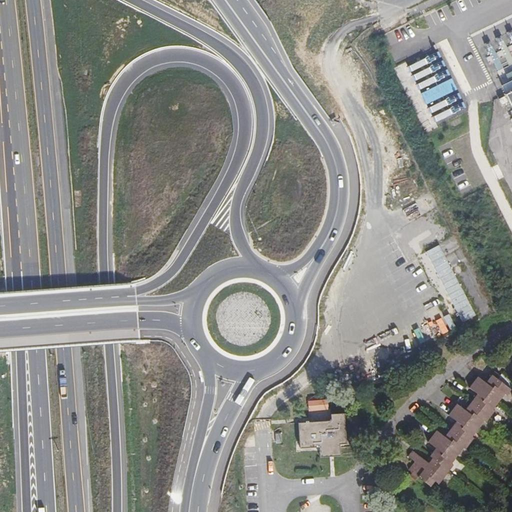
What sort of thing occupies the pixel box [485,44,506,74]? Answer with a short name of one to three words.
truck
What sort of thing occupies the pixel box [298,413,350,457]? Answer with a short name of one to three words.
building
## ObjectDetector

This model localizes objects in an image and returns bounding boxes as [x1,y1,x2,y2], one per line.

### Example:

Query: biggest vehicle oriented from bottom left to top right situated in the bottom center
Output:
[234,377,256,406]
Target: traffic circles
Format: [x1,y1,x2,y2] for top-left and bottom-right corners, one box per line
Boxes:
[182,256,306,381]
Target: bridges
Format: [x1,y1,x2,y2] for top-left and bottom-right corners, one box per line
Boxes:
[0,282,140,351]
